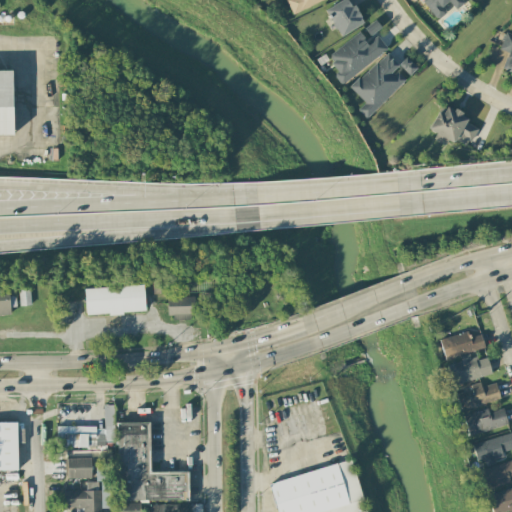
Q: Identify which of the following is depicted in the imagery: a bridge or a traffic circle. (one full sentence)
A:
Visible in the photo is a bridge.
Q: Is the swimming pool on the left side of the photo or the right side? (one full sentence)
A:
The swimming pool is on the right side of the image.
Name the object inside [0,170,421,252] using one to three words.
overpass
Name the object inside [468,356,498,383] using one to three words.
house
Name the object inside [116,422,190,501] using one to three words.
building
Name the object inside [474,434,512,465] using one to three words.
house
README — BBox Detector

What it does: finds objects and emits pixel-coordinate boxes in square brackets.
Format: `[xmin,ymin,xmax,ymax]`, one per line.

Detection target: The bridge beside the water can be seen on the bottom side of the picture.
[270,278,392,369]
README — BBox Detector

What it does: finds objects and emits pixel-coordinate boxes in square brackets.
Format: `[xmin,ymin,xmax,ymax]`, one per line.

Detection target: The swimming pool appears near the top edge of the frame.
[435,10,468,32]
